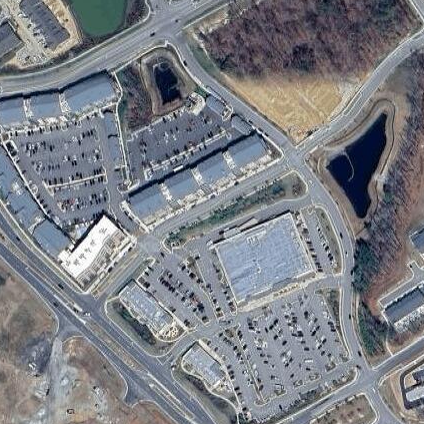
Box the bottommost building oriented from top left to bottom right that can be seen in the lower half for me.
[184,342,227,388]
